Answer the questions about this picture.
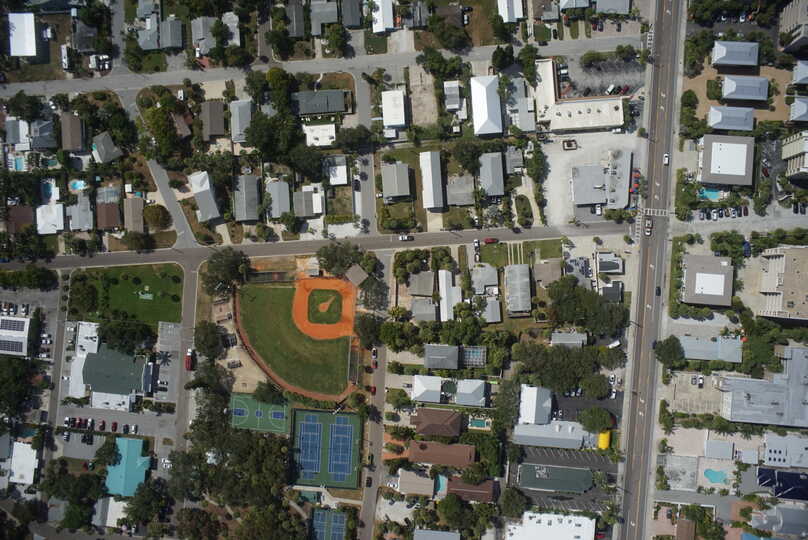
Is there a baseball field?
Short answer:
Yes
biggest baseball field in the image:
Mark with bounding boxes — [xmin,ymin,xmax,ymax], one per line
[232,278,358,400]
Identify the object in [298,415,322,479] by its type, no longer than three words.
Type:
tennis court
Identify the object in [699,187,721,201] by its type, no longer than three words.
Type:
swimming pool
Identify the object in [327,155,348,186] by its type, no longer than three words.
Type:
house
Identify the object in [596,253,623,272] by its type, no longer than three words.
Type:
building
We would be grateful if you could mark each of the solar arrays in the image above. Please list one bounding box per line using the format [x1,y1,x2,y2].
[0,319,26,332]
[0,340,23,352]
